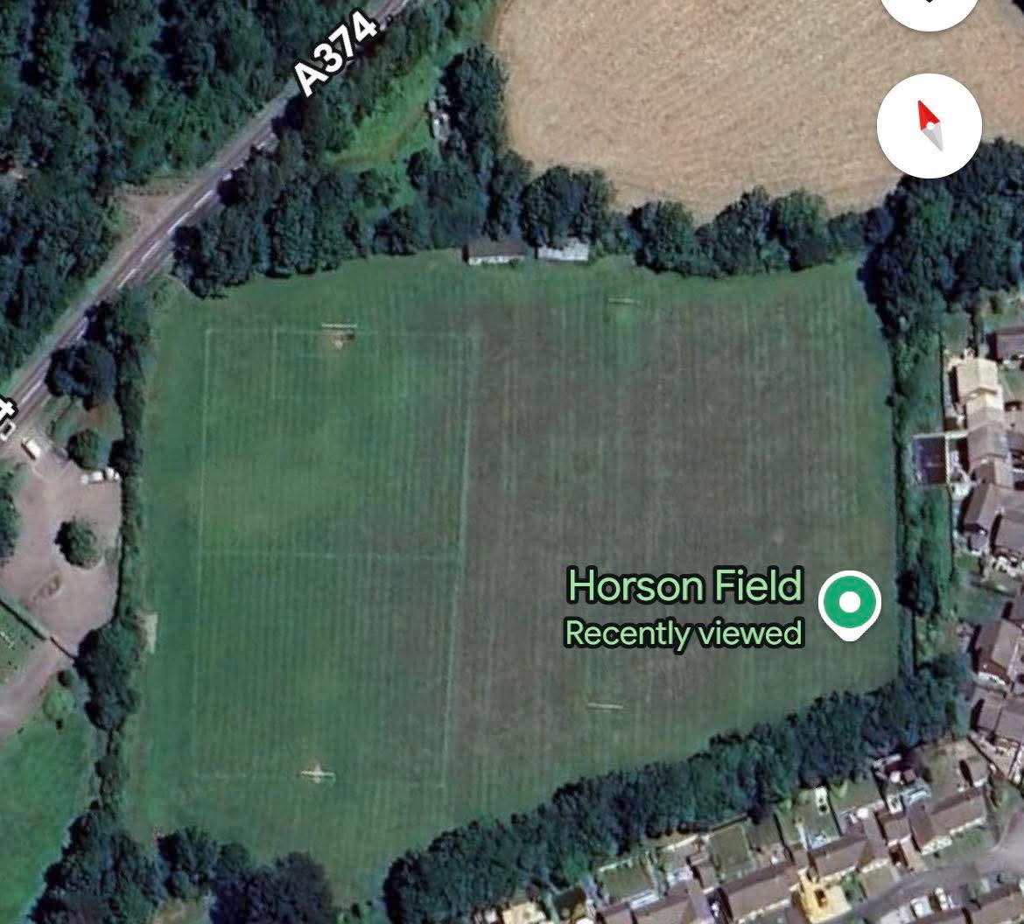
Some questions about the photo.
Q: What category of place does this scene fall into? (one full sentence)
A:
The picture captures a sports ground.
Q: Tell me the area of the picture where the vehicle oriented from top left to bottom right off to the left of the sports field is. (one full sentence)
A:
Look in the left portion of the view to spot the vehicle oriented from top left to bottom right off to the left of the sports field.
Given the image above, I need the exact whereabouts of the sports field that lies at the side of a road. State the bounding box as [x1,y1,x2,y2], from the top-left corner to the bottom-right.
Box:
[114,250,905,924]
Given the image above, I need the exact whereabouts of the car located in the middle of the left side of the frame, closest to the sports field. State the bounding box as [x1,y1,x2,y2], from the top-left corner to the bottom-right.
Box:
[103,469,121,481]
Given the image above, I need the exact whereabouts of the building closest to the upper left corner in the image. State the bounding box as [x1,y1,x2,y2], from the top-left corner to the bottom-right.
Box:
[469,242,524,261]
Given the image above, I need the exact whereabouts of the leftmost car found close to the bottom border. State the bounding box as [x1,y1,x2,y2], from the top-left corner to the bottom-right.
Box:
[709,901,723,920]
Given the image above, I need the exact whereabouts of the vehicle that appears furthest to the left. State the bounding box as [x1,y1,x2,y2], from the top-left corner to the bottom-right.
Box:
[23,437,43,458]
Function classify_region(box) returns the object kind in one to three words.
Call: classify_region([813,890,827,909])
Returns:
car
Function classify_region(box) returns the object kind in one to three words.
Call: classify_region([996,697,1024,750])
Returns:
house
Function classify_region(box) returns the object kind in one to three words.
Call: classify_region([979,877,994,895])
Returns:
car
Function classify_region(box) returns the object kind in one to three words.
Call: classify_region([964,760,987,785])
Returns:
building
